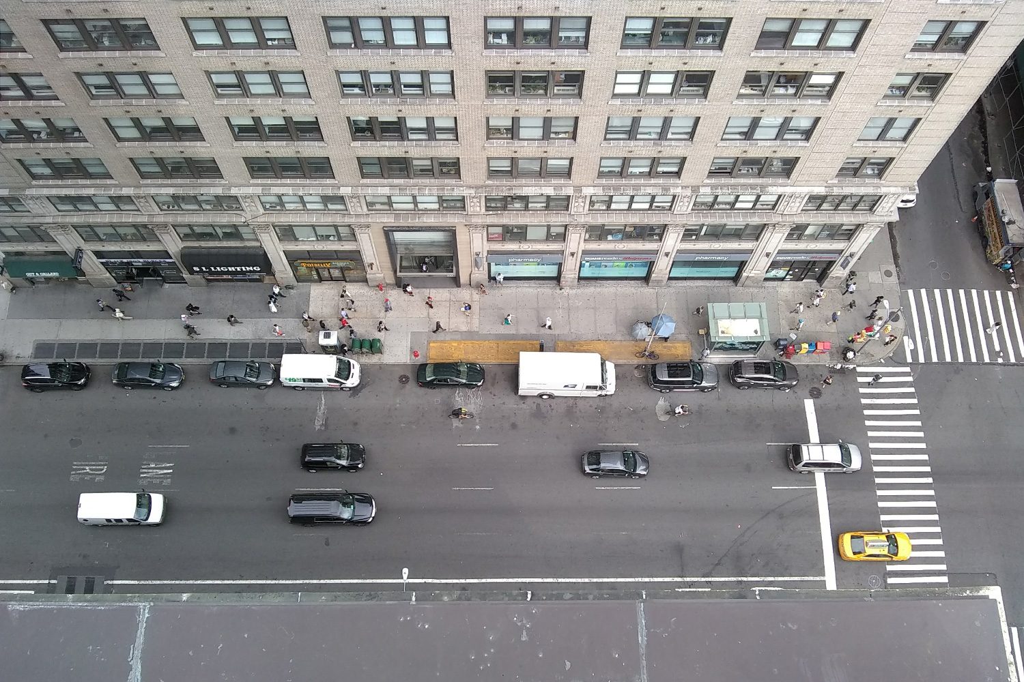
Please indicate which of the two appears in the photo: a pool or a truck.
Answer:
truck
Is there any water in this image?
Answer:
No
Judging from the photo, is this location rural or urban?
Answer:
urban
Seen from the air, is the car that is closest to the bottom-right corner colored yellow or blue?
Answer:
yellow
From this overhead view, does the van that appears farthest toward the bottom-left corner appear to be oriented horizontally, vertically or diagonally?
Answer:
horizontally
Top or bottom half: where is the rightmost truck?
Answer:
top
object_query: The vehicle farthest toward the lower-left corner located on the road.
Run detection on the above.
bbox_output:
[72,489,169,526]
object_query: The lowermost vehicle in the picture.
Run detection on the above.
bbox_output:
[835,527,912,562]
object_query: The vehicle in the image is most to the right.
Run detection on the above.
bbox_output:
[976,184,1024,271]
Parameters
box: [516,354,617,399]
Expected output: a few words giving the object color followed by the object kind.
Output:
white truck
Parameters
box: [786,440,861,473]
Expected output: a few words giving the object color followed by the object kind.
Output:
white car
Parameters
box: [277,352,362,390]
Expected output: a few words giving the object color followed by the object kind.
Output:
white van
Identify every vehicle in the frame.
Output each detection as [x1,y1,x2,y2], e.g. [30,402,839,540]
[277,352,362,390]
[111,357,187,390]
[209,357,278,389]
[19,358,94,391]
[581,446,649,478]
[976,184,1024,271]
[786,440,861,473]
[287,487,377,525]
[299,438,367,472]
[900,195,919,208]
[516,354,617,399]
[727,356,799,390]
[835,527,912,562]
[417,357,485,388]
[646,357,719,392]
[72,489,169,526]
